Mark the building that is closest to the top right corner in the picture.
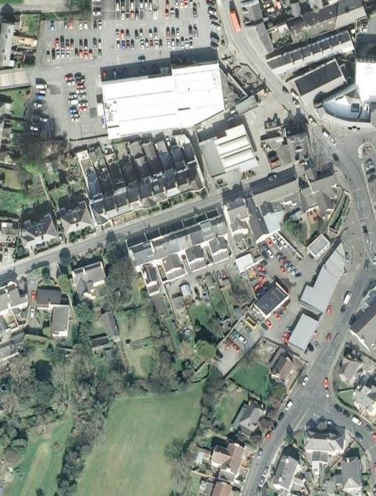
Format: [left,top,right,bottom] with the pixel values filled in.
[327,0,368,36]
